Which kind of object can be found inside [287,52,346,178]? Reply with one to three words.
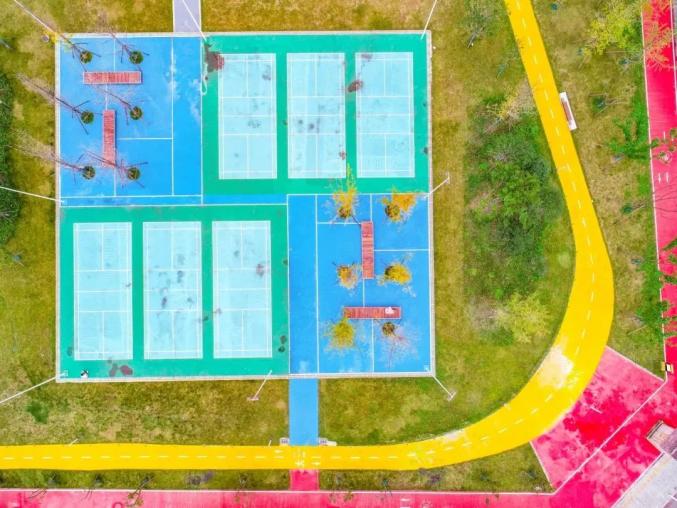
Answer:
sports court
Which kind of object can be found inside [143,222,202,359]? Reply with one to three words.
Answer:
sports court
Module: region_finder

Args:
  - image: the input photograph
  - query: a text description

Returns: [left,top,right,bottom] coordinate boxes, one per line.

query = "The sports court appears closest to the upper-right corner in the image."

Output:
[355,52,415,177]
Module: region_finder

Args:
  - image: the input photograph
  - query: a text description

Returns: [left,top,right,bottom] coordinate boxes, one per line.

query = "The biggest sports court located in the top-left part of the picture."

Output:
[58,34,288,206]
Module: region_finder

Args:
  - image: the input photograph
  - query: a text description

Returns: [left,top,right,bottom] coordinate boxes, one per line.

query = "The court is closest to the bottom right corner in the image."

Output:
[288,193,432,376]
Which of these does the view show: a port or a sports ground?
sports ground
